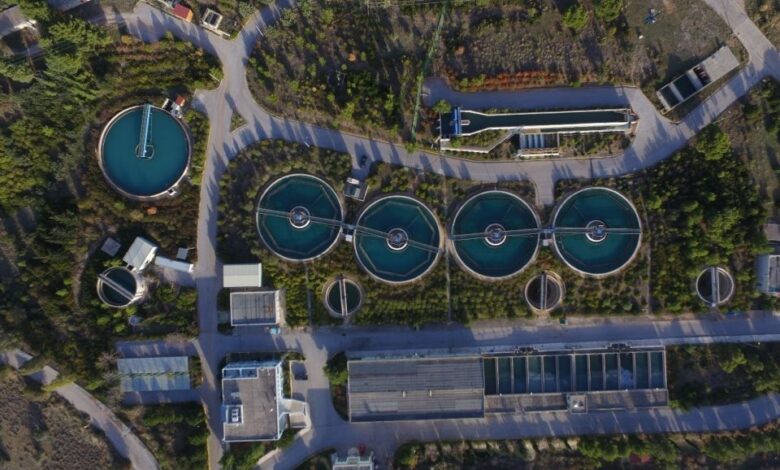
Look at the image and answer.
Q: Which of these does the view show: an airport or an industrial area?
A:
industrial area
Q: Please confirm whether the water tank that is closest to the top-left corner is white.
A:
No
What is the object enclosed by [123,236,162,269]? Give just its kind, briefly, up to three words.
shed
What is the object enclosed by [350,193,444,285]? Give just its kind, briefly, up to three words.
storage tank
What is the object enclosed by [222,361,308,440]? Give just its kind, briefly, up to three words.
building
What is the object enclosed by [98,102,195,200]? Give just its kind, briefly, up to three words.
water tank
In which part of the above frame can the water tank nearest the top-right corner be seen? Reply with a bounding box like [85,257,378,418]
[654,46,740,114]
